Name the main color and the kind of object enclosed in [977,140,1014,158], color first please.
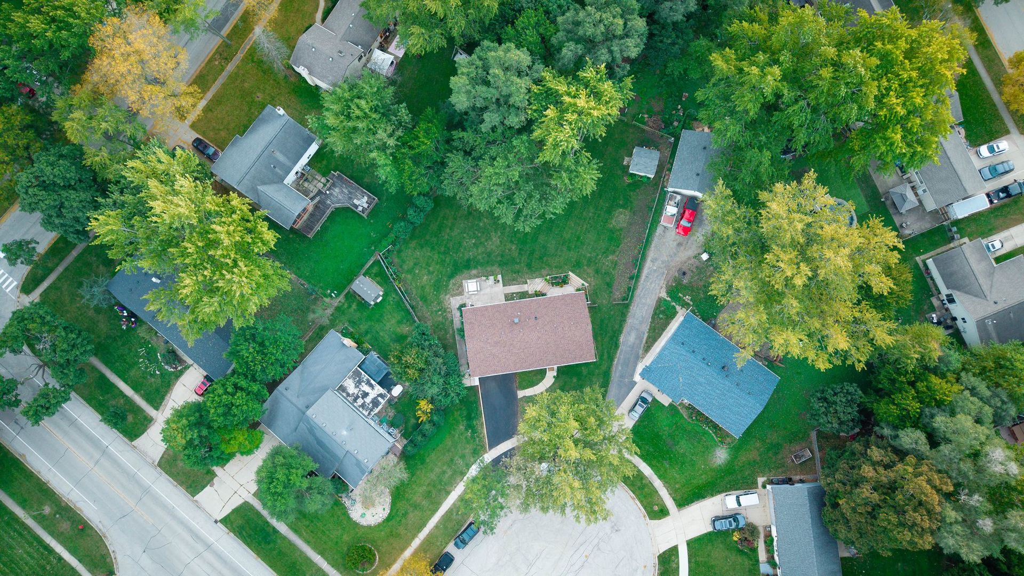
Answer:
white car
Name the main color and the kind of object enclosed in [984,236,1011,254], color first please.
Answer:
white car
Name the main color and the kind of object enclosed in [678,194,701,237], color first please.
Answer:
red truck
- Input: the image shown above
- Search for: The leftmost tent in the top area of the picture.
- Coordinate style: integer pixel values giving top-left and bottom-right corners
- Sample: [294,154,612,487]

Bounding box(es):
[367,49,397,73]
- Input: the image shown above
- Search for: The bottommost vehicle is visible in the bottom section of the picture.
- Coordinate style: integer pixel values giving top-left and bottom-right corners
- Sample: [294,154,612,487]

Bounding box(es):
[428,547,458,576]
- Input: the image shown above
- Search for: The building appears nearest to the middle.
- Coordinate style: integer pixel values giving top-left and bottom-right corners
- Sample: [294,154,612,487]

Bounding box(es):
[462,291,596,378]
